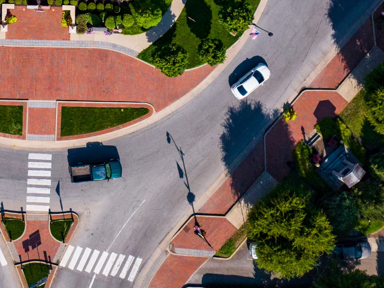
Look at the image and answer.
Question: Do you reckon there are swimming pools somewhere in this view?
No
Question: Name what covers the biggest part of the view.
paved ground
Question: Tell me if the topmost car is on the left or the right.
right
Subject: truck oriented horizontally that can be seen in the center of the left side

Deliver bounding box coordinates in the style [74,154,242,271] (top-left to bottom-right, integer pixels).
[70,160,121,183]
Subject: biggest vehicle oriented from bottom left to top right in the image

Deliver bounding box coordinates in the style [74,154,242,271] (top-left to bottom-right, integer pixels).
[233,63,272,102]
